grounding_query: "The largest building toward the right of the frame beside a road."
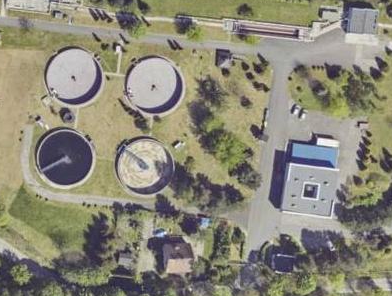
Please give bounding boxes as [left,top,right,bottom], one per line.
[283,137,340,220]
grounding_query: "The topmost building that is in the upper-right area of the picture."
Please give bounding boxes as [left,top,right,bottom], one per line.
[349,8,379,35]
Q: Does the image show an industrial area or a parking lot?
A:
industrial area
